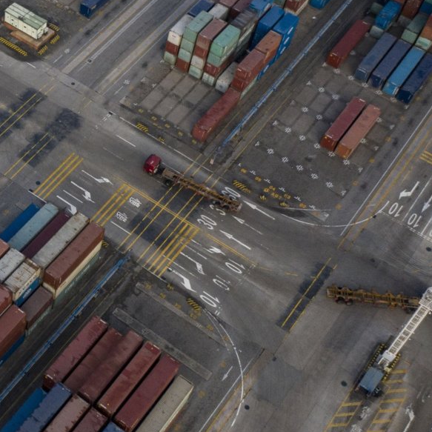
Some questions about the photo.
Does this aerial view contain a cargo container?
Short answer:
Yes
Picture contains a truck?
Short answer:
Yes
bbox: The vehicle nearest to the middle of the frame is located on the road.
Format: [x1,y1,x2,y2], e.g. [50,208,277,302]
[139,154,233,210]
